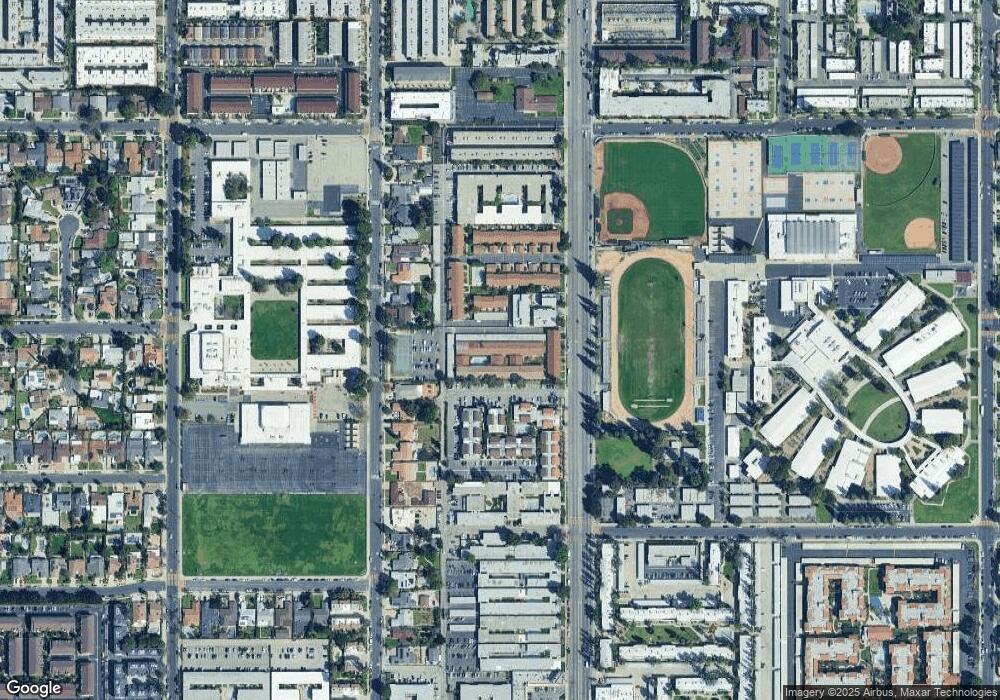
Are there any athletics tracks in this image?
Yes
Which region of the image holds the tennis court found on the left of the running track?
center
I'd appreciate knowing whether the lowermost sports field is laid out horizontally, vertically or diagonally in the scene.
horizontally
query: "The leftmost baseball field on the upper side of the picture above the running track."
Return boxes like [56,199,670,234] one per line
[598,140,705,240]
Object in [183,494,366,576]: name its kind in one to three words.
sports field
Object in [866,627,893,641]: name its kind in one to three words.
house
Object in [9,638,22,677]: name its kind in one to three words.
building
